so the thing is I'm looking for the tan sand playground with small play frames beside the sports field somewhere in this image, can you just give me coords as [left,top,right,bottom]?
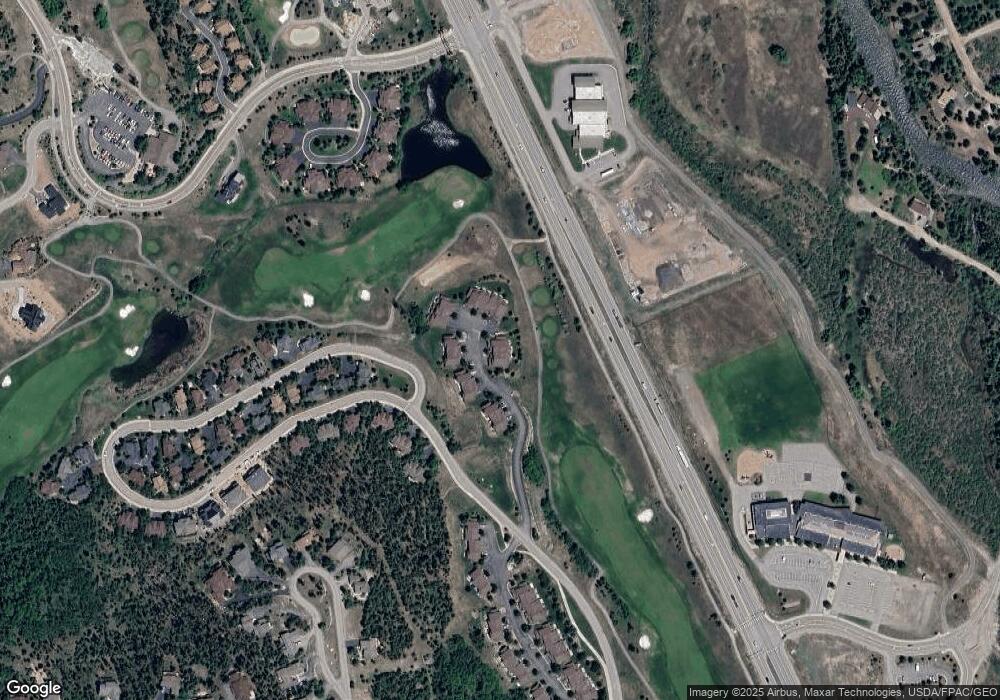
[737,448,775,483]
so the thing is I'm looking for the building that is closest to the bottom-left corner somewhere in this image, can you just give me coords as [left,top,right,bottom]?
[99,679,120,699]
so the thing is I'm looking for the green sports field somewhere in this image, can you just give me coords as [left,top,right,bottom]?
[694,335,827,450]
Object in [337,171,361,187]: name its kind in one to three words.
house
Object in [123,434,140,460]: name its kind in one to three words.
house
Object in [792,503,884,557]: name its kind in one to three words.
building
